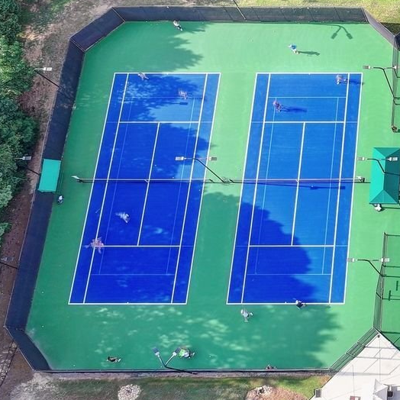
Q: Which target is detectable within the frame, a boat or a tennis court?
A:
tennis court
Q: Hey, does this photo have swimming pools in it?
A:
No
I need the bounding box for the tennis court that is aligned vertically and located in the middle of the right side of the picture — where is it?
[227,74,362,304]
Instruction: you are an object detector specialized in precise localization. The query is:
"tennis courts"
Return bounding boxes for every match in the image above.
[227,74,362,304]
[69,74,219,304]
